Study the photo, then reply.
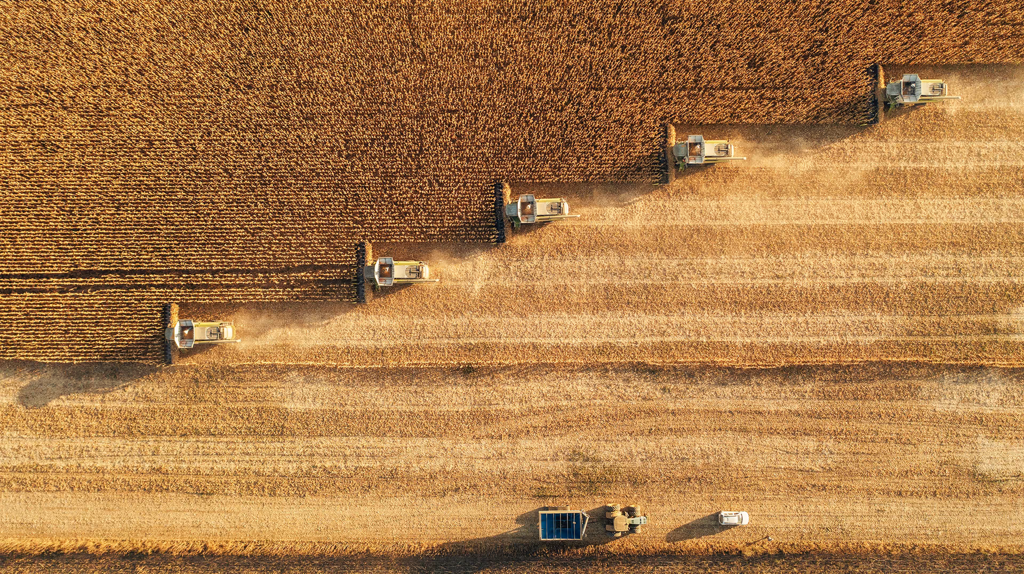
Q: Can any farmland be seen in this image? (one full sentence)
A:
Yes, the picture does contain farmland.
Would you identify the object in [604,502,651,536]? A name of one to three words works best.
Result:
work vehicle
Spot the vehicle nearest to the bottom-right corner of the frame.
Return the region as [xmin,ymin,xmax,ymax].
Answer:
[718,511,748,526]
